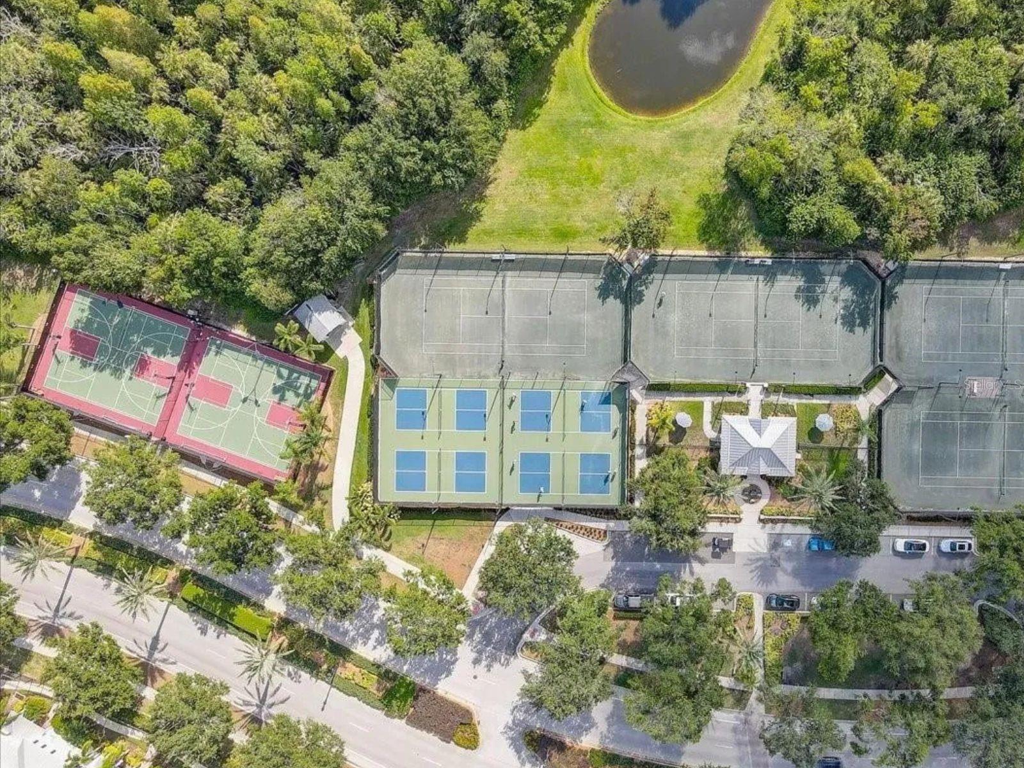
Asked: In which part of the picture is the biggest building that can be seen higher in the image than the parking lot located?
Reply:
right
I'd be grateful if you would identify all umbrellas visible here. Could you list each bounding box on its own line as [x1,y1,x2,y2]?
[814,413,832,431]
[675,412,691,428]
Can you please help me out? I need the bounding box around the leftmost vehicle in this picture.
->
[614,595,654,612]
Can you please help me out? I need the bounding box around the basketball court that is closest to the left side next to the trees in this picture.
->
[29,286,204,443]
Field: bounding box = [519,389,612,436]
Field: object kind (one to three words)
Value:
sports court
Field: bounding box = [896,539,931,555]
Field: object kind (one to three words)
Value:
car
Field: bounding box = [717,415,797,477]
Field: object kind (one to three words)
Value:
building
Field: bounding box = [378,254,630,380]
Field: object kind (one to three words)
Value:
tennis court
